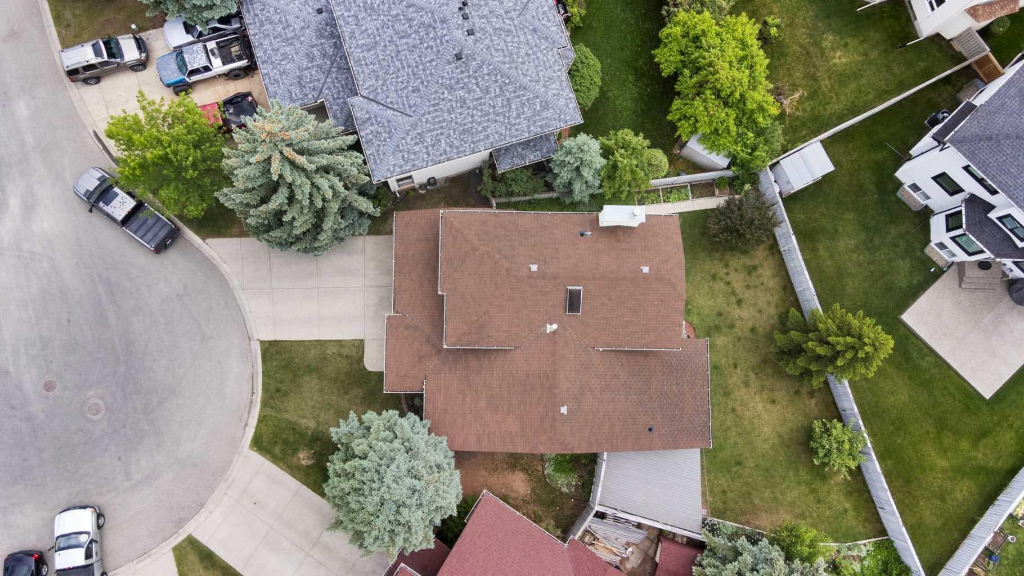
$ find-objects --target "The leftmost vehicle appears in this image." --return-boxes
[3,544,52,576]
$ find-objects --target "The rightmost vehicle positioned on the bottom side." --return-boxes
[49,500,109,576]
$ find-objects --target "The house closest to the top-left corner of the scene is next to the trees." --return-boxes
[240,0,584,206]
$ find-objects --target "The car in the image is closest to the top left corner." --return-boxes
[55,35,154,89]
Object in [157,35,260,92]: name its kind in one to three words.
truck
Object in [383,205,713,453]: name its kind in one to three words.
house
